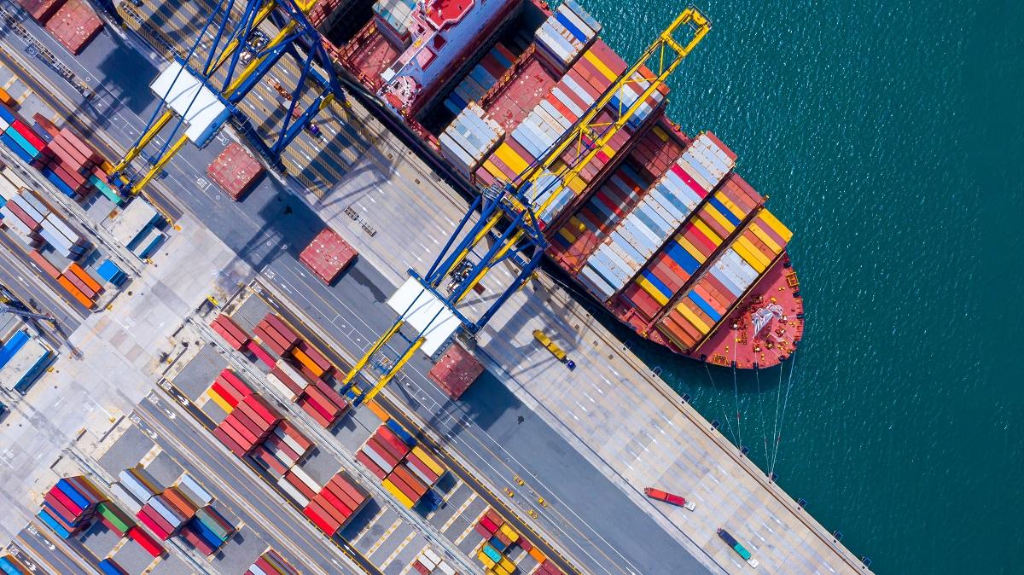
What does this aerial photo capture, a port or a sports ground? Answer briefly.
port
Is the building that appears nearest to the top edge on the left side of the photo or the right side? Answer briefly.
left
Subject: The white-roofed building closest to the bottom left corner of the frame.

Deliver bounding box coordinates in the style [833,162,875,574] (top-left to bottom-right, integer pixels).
[0,337,59,393]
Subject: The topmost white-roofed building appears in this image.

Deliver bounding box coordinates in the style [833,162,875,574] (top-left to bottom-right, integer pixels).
[109,197,172,266]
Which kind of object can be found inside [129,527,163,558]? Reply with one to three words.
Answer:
shipping container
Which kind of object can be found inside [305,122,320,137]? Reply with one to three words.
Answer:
vehicle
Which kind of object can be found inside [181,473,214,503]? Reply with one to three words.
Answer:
shipping container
